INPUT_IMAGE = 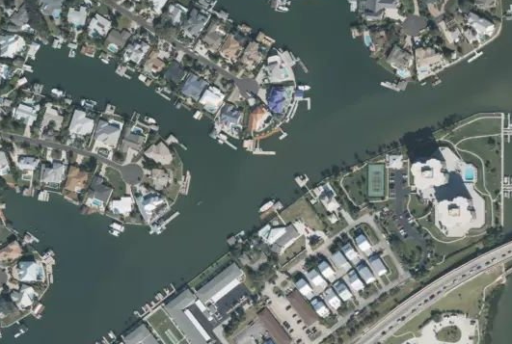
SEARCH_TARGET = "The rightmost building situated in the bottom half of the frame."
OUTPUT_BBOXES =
[433,196,474,239]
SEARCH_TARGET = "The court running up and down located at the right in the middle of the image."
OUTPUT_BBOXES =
[368,164,384,196]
